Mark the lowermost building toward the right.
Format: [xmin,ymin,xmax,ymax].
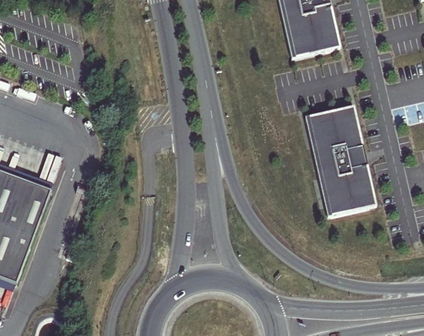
[308,105,376,220]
